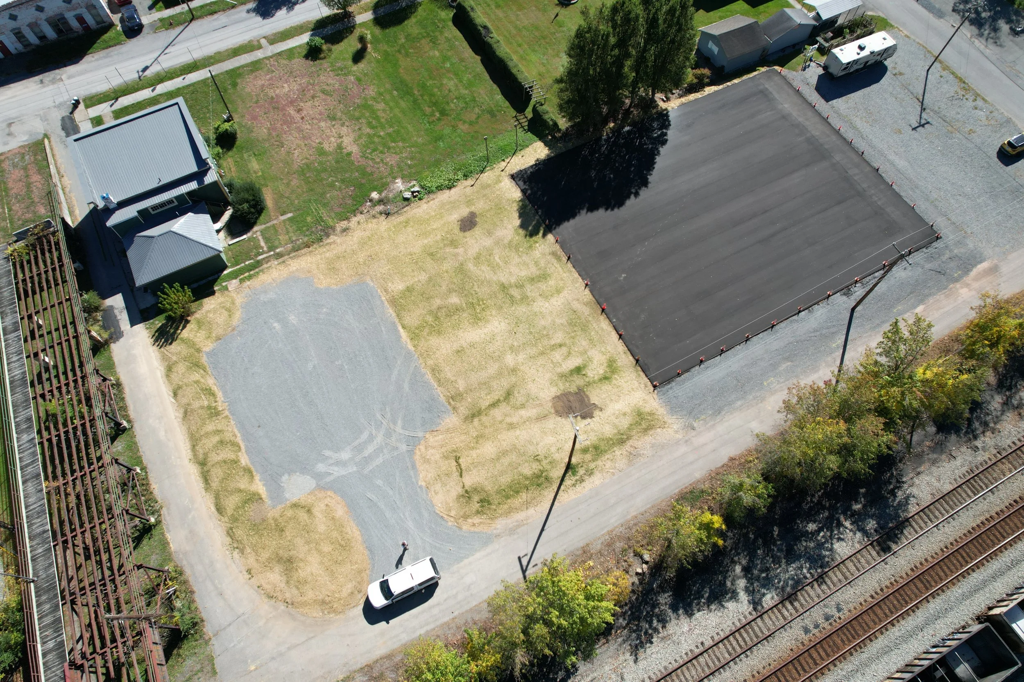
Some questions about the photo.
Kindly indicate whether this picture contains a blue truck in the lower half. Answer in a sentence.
No, no blue truck is visible in the lower half.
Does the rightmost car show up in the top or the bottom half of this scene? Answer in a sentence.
The rightmost car is in the top half of the image.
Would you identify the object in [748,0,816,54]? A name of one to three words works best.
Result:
shed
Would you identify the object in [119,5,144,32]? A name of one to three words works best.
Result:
car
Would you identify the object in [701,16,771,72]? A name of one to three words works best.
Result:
shed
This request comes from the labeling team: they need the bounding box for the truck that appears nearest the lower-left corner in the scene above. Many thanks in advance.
[367,559,442,610]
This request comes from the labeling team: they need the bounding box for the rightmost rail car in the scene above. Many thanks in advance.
[980,580,1024,653]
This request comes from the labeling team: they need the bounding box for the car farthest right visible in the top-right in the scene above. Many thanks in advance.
[994,123,1024,152]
